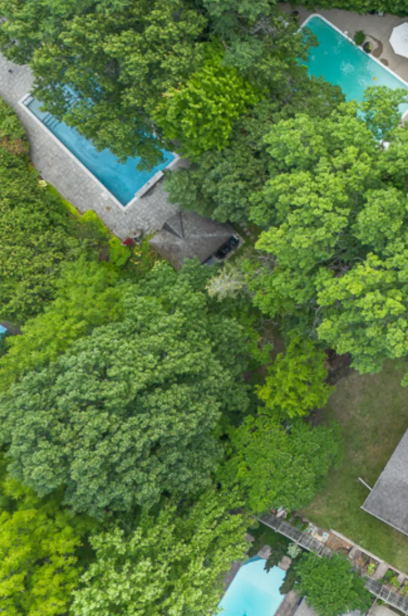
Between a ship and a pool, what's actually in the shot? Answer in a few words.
pool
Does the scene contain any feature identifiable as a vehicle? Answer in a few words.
No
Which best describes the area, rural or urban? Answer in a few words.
rural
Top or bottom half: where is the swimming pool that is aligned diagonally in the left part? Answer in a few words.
top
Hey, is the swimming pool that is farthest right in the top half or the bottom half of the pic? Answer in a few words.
top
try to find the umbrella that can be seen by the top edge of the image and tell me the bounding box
[387,19,408,62]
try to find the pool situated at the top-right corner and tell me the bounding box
[273,9,408,110]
